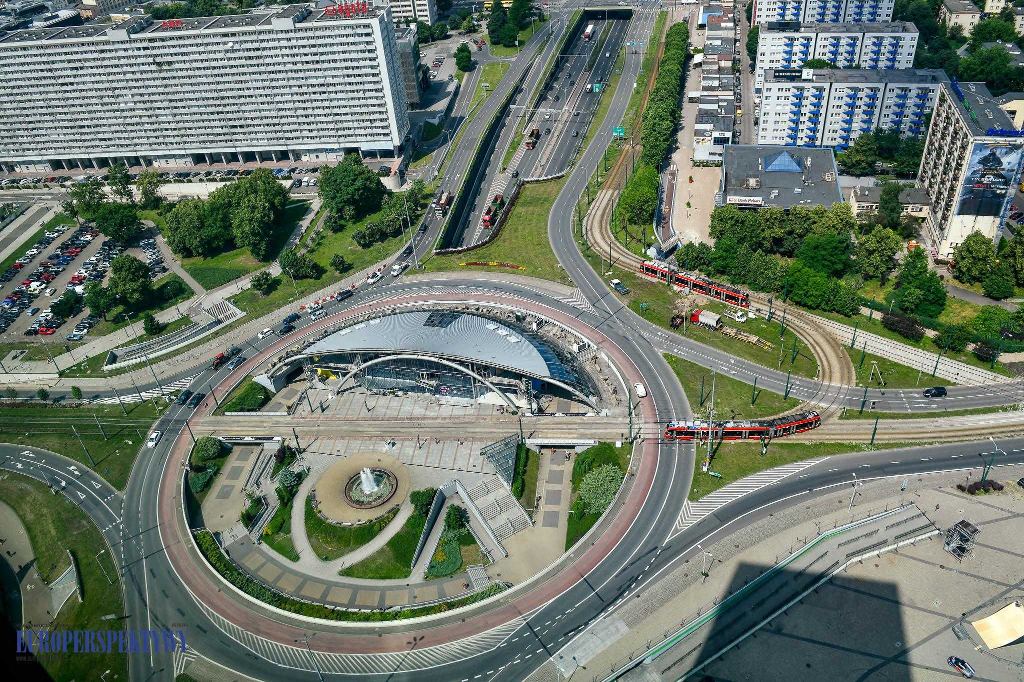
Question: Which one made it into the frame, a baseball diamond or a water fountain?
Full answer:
Looking from above, you can make out a water fountain.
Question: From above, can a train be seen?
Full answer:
Yes, the photo shows a train.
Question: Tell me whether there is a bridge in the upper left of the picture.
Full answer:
No, no bridge appears in the upper left of the picture.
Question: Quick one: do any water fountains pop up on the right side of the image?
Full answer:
No, no water fountain is visible on the right side of the image.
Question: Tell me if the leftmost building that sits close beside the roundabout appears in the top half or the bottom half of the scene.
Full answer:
The leftmost building that sits close beside the roundabout is in the top half of the image.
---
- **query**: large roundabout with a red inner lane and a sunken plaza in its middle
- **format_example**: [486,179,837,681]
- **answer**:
[120,279,695,682]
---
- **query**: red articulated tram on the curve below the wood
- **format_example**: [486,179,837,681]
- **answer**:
[642,259,754,307]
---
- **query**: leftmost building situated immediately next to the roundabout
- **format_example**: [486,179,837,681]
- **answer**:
[0,0,411,174]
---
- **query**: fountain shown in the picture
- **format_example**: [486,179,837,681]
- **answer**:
[342,464,398,509]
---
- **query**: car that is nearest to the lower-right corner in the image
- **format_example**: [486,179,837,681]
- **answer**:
[943,652,980,681]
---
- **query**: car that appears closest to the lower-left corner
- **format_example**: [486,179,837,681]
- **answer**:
[146,429,160,445]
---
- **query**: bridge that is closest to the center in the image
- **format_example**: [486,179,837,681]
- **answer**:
[521,412,628,457]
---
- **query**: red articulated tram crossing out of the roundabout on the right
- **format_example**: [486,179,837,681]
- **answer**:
[666,402,821,439]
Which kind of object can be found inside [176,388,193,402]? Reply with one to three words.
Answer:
car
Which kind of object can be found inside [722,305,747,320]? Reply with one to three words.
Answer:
vehicle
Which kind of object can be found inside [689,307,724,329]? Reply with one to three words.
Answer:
truck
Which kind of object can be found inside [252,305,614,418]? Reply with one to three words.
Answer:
building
